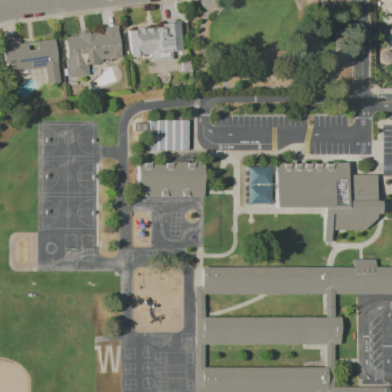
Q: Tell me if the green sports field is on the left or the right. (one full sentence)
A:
The green sports field appears in the left half of the scene.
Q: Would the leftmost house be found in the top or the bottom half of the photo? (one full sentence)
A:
The leftmost house sits in the top half of the picture.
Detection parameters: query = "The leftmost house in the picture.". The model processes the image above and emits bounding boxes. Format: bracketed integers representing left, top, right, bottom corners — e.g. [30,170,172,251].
[5,39,60,84]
